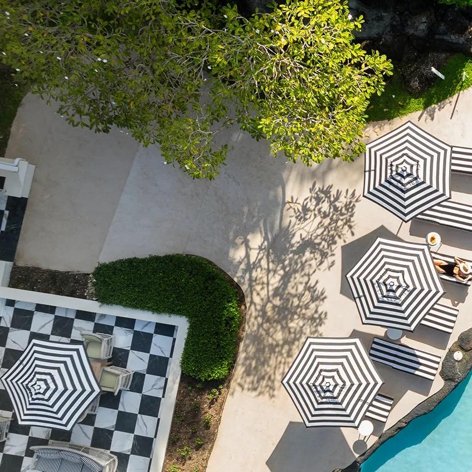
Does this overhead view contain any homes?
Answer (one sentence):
No, I find no home anywhere in the image.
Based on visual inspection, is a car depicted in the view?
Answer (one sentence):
No, the frame has no car in it.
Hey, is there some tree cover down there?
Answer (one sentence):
Yes, some tree cover is visible.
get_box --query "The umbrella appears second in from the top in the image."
[345,237,443,332]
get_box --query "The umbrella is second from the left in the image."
[280,334,382,424]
